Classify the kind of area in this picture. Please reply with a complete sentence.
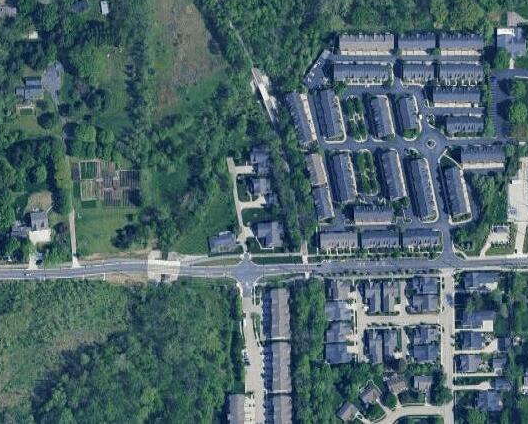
This looks like a residential area.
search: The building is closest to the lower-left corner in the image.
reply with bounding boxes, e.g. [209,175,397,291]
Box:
[14,210,52,242]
